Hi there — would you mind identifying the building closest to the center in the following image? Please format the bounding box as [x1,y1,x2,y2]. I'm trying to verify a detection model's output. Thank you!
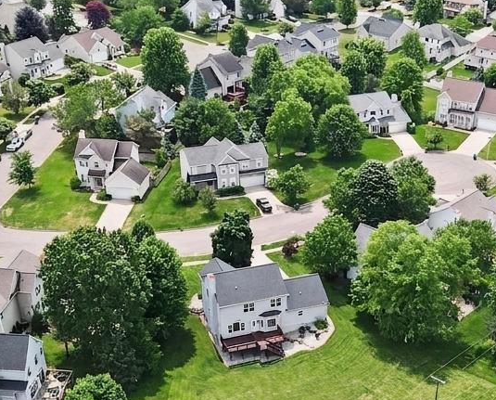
[182,129,271,197]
